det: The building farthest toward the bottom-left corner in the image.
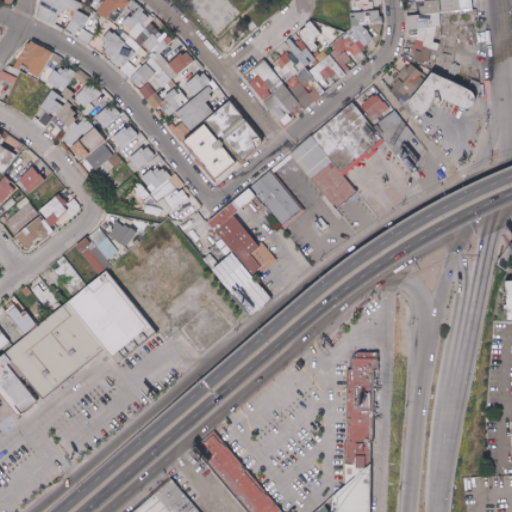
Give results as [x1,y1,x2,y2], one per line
[0,354,37,412]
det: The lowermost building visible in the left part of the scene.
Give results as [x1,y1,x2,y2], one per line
[128,479,200,512]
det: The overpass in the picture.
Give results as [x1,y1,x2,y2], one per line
[43,168,512,512]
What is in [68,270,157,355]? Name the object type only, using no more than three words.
building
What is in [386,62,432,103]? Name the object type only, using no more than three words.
house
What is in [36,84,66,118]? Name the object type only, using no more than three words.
house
